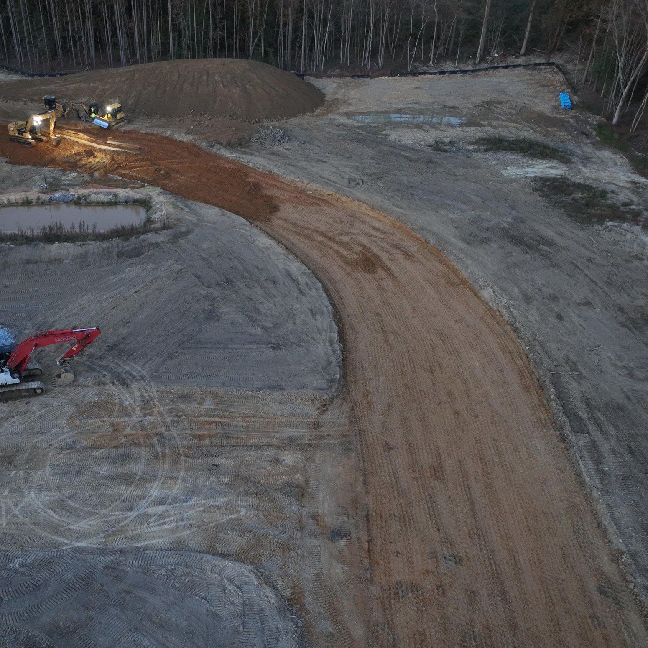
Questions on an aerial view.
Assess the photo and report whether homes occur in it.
No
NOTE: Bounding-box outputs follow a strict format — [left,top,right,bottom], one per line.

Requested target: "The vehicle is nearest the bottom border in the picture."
[0,325,102,399]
